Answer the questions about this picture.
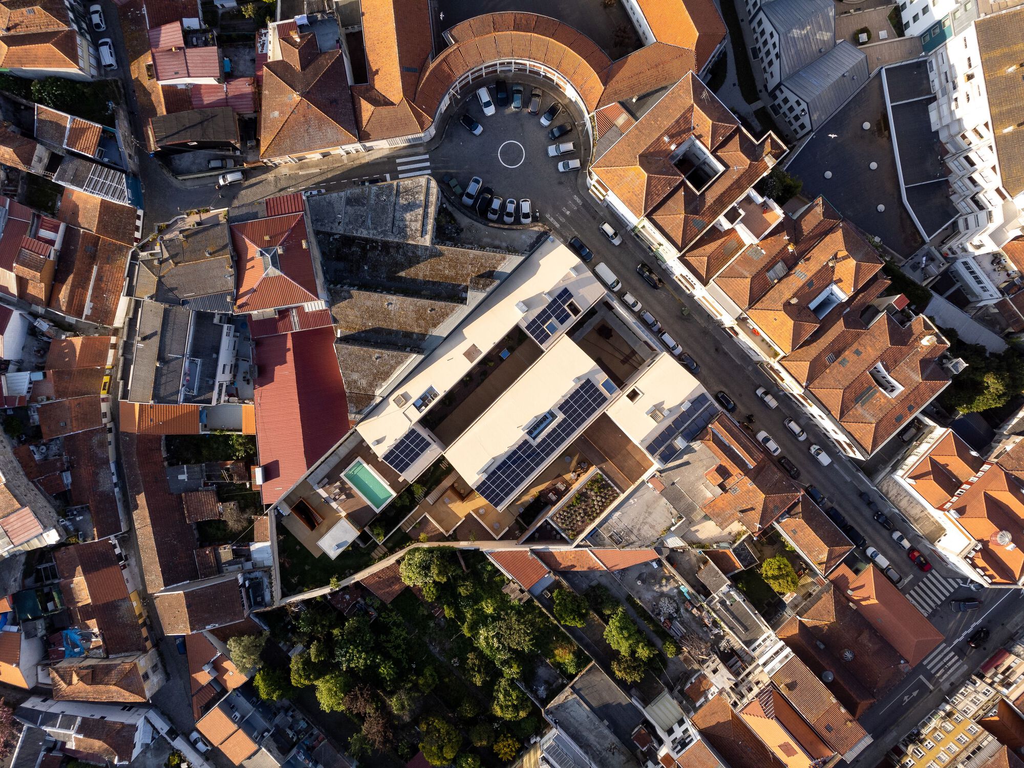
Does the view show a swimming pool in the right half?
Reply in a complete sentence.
No, I see no swimming pool in the right half.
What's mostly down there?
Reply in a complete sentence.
For the most part, this view shows buildings.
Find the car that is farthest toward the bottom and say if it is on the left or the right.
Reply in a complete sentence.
You can find the car that is farthest toward the bottom on the left side of the picture.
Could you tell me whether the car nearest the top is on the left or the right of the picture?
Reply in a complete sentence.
You can find the car nearest the top on the left side of the picture.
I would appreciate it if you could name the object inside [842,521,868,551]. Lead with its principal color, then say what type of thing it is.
black car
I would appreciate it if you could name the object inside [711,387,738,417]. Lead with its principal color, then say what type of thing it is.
black car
